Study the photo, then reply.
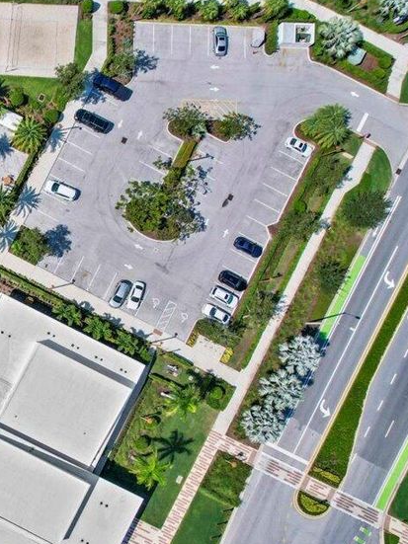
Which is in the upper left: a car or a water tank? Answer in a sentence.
The one visible in the upper left is a car.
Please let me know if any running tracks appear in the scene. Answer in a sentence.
No, the frame has no running track in it.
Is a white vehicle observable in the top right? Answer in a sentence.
Yes, you'll find a white vehicle in the top right.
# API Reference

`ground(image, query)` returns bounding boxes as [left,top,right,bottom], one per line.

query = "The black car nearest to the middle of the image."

[218,268,248,291]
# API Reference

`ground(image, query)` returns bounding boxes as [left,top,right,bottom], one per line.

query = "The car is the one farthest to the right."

[283,135,313,155]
